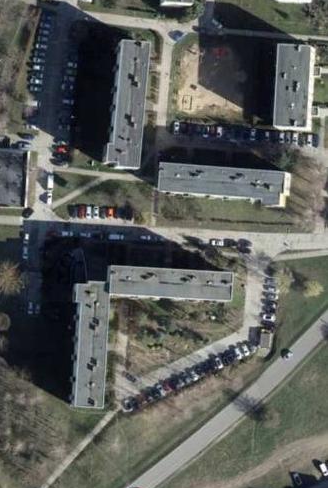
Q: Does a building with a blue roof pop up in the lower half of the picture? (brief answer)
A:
No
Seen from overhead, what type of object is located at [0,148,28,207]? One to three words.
building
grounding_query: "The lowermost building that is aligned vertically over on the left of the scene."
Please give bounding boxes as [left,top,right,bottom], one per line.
[72,283,113,410]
